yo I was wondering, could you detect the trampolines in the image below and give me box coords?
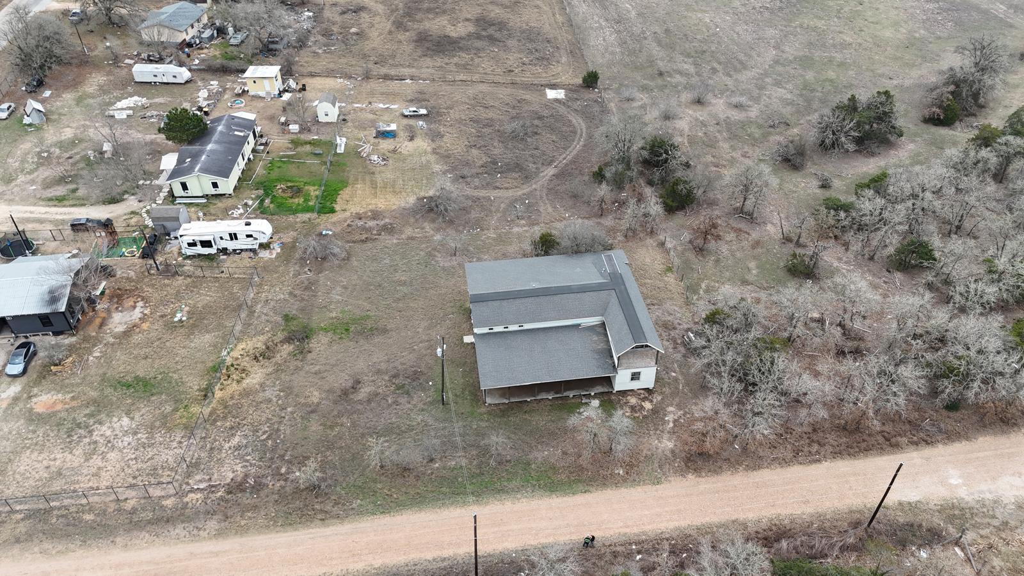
[0,222,38,260]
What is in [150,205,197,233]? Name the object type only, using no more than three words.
shed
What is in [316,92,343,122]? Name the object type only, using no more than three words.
shed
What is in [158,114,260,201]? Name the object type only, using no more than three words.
house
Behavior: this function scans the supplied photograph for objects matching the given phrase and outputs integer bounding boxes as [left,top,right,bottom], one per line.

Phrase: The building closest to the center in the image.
[464,251,664,409]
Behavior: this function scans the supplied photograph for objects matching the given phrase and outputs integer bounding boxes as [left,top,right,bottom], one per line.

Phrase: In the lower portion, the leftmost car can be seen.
[1,338,36,376]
